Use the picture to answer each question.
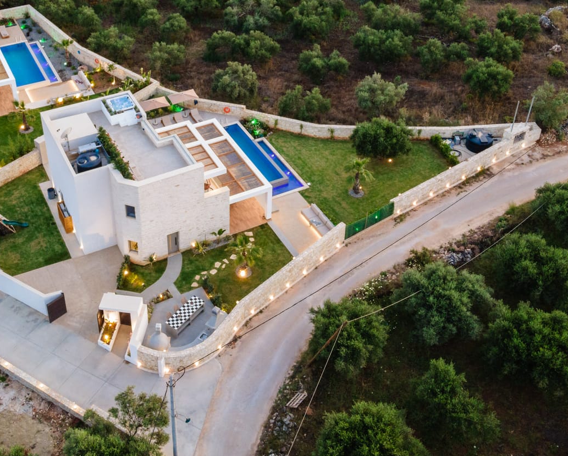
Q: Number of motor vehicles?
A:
0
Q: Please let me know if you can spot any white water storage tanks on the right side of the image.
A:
No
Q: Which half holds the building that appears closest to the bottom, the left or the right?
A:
left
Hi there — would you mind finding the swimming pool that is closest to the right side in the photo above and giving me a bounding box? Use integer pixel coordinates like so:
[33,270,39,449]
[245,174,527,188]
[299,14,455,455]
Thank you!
[255,136,308,199]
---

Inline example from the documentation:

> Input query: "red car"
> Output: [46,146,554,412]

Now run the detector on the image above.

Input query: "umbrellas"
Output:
[168,87,200,104]
[139,96,171,127]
